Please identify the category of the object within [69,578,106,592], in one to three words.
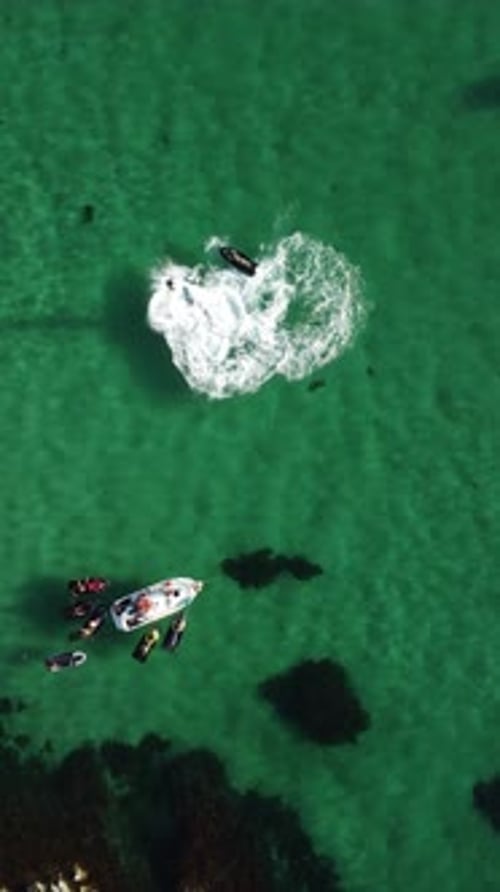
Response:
vessel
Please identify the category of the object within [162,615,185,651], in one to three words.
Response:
vessel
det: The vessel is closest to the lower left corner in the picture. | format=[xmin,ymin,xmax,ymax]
[46,652,87,670]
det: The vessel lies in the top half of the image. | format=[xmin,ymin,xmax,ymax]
[220,248,258,278]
